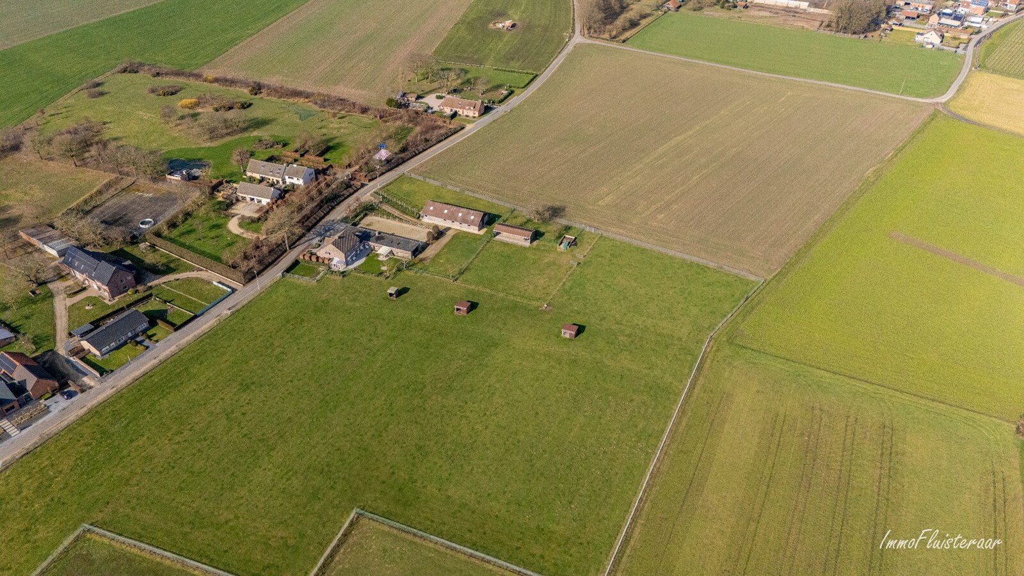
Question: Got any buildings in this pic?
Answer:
Yes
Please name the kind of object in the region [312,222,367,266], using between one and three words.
house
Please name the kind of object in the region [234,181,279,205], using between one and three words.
building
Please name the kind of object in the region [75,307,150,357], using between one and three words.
house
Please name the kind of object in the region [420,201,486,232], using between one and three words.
building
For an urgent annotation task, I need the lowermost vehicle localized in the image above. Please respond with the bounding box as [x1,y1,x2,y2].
[56,386,73,399]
